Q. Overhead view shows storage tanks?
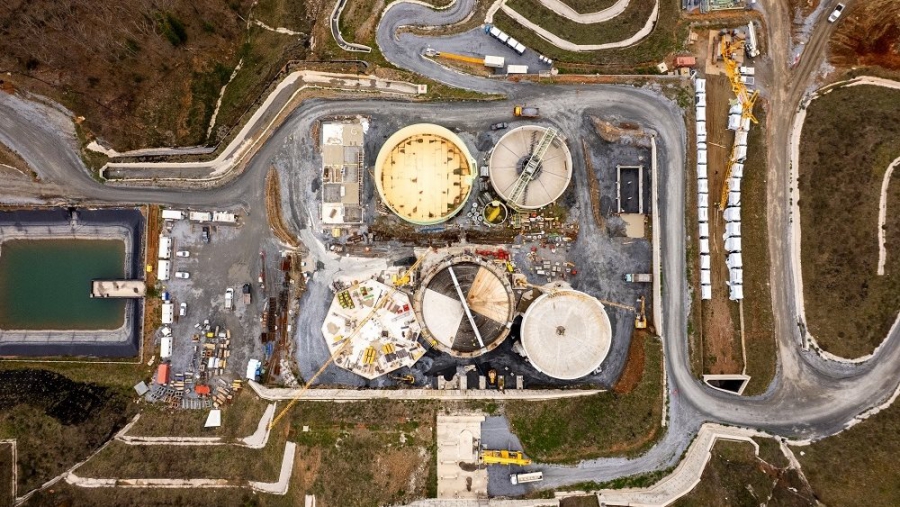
Yes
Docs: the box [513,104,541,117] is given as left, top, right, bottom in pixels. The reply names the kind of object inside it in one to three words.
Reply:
vehicle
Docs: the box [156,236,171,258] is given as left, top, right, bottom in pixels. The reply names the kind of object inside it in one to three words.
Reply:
building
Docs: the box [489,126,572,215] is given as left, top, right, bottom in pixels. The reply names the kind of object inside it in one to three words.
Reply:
storage tank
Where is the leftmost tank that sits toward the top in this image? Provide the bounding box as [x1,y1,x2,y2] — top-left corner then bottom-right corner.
[374,123,482,226]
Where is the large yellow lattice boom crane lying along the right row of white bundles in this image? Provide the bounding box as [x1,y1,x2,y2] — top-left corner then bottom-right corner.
[708,28,759,212]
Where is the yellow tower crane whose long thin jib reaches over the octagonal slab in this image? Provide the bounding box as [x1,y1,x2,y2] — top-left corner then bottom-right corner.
[271,245,434,426]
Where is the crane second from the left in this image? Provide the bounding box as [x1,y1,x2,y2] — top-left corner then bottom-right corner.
[423,43,486,62]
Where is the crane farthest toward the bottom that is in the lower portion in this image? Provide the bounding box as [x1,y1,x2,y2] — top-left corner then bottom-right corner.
[482,447,533,467]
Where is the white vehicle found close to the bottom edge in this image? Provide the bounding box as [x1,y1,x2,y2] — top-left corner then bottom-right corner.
[512,474,543,487]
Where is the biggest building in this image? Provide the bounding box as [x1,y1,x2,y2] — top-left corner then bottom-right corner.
[320,121,365,223]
